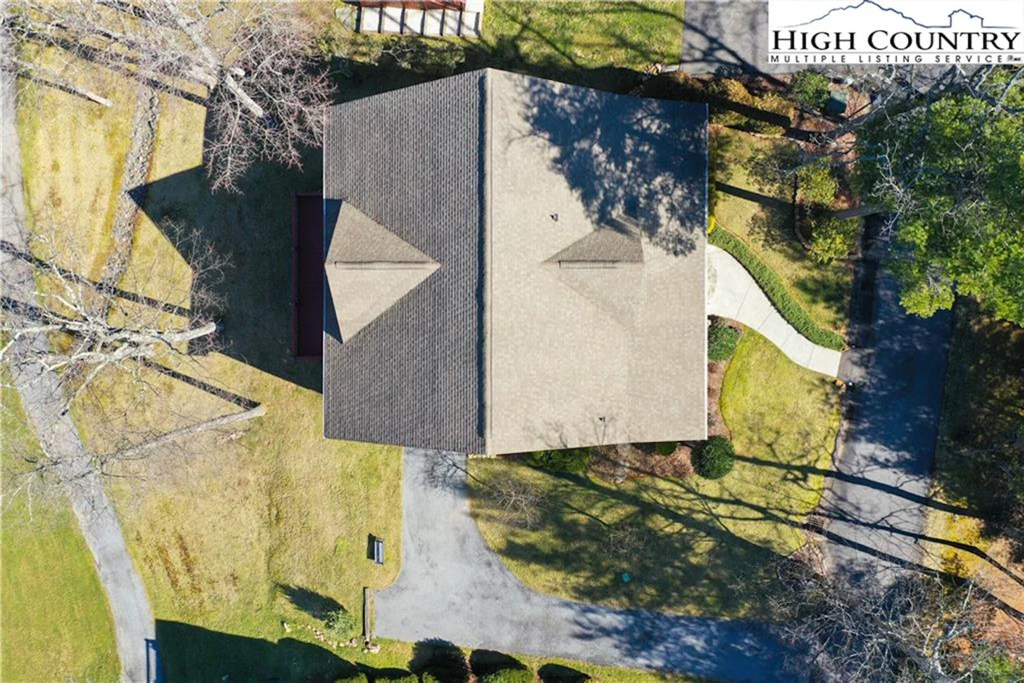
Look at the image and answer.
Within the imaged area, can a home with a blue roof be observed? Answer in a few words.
No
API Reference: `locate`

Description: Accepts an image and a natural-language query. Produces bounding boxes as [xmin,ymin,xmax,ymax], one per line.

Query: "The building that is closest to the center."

[321,68,709,455]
